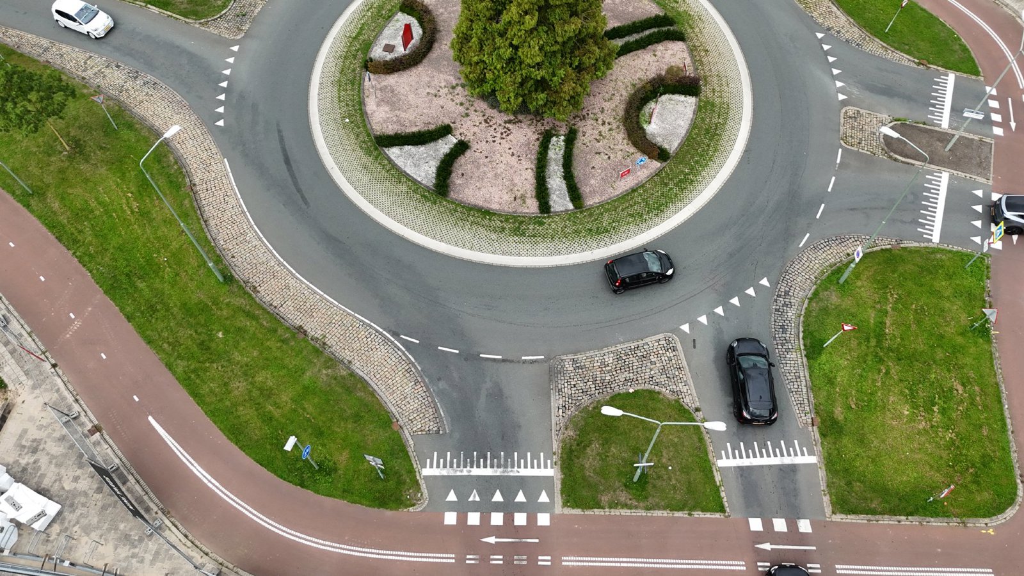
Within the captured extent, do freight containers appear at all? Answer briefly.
No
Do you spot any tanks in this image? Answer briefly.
No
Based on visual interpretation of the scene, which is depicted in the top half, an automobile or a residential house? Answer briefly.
automobile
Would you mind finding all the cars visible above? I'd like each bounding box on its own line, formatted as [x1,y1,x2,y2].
[991,196,1024,239]
[726,337,782,427]
[767,565,812,576]
[48,0,116,39]
[600,242,675,295]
